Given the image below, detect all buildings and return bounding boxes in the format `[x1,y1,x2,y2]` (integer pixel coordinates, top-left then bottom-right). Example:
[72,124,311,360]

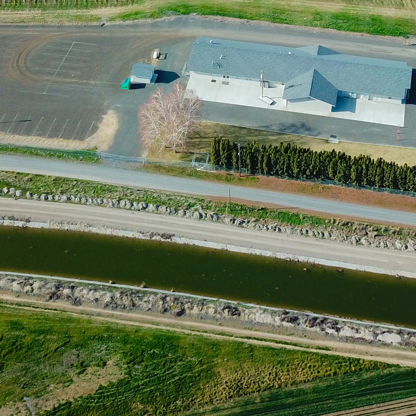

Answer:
[129,61,161,87]
[188,37,416,114]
